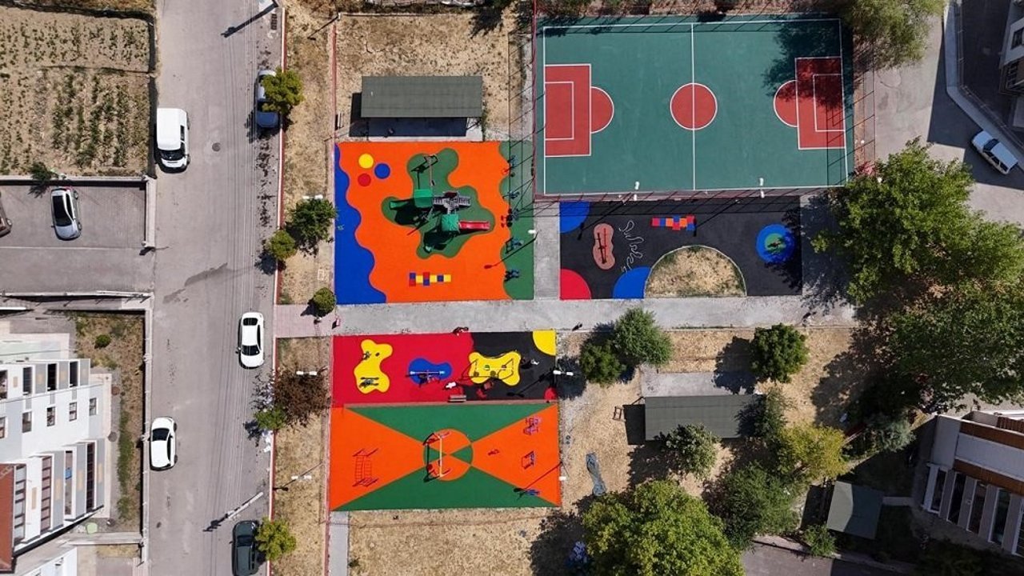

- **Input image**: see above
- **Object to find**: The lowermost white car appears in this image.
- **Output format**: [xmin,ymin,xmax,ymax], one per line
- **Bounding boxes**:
[149,415,179,466]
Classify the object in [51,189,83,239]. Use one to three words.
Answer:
car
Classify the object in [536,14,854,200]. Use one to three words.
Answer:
sports court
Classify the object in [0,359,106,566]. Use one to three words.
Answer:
building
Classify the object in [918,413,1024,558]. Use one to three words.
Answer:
building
